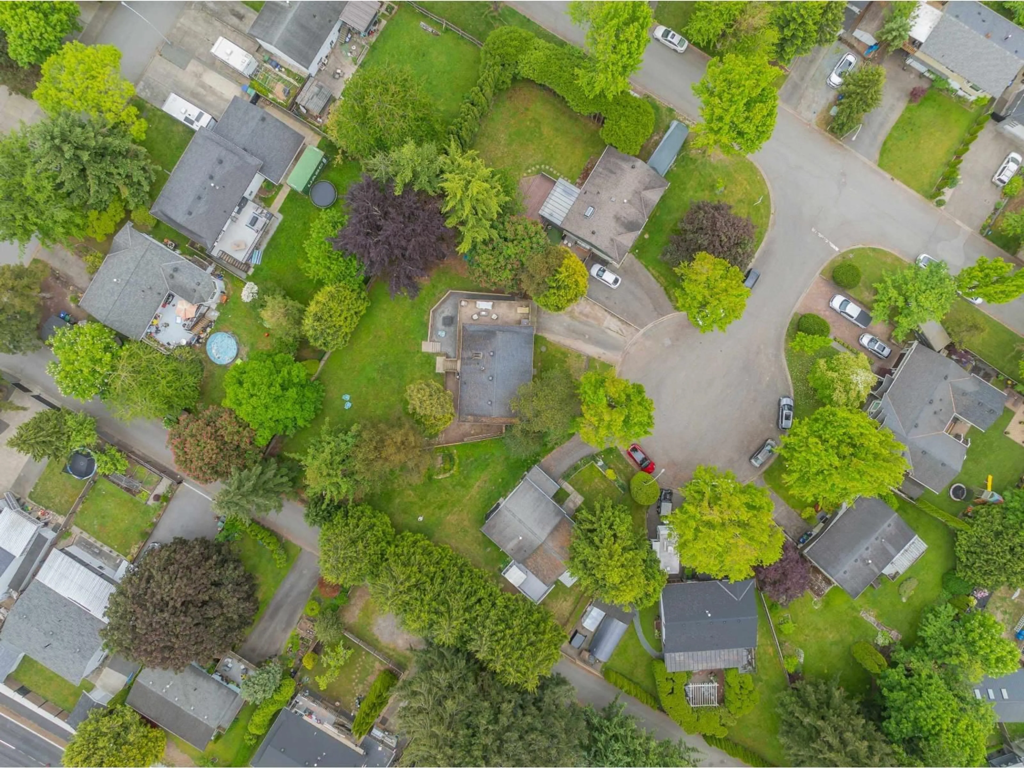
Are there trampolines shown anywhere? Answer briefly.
Yes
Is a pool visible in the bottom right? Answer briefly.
No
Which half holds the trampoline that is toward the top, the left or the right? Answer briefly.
left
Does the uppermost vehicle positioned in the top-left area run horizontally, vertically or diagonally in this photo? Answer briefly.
diagonally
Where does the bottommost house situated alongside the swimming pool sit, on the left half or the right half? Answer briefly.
left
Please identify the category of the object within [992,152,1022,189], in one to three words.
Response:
car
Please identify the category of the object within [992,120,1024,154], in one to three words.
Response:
shed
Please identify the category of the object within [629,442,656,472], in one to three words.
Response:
car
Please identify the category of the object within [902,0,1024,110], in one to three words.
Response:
house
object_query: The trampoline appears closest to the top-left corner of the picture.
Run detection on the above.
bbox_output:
[307,179,336,207]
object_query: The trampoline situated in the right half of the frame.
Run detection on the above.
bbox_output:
[950,484,980,505]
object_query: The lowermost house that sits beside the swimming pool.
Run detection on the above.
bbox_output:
[78,224,231,348]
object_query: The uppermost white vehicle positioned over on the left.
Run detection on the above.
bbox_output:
[210,36,262,80]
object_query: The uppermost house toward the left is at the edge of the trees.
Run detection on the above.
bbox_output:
[247,0,369,82]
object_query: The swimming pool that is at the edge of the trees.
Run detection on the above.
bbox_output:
[206,332,241,365]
